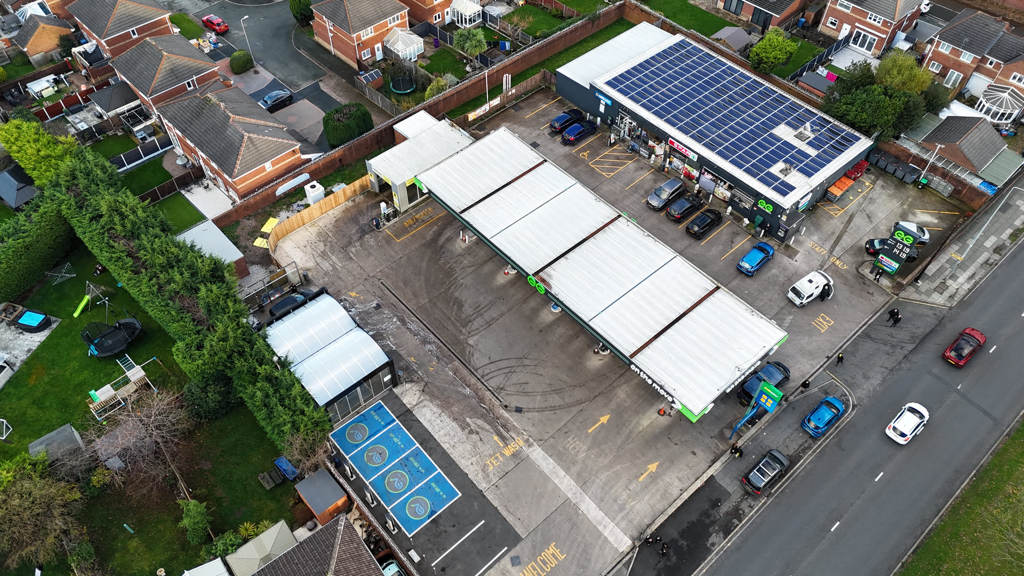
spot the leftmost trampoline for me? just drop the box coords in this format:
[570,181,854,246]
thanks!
[82,315,150,358]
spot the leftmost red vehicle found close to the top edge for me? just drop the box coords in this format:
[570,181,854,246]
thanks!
[200,16,232,35]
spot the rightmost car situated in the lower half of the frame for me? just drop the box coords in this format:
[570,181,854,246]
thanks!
[939,328,983,370]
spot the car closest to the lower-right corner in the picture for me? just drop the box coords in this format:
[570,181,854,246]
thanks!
[885,403,928,446]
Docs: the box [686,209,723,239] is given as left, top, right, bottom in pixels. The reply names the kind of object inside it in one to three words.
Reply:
car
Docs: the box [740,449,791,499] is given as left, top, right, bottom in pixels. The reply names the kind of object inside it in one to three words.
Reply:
car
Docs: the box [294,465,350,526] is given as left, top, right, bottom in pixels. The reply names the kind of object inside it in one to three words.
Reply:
shed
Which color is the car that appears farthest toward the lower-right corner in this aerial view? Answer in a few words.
white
